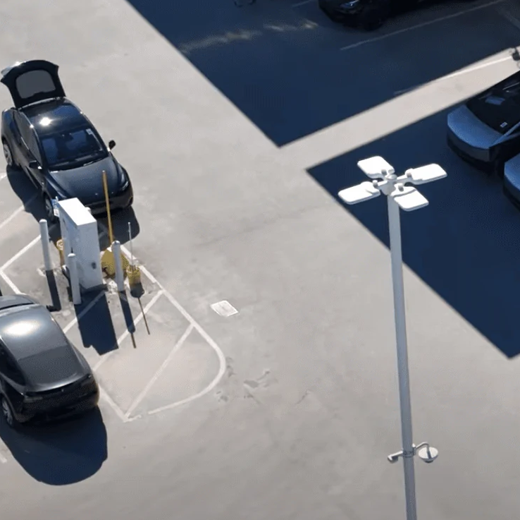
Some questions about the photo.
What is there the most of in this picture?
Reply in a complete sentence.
What you mostly see from above here is paved ground.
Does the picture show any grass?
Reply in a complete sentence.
No, there is no grass in the image.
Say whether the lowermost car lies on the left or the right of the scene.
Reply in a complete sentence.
The lowermost car appears in the left half of the scene.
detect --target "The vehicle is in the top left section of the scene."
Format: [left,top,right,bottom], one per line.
[0,50,131,218]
